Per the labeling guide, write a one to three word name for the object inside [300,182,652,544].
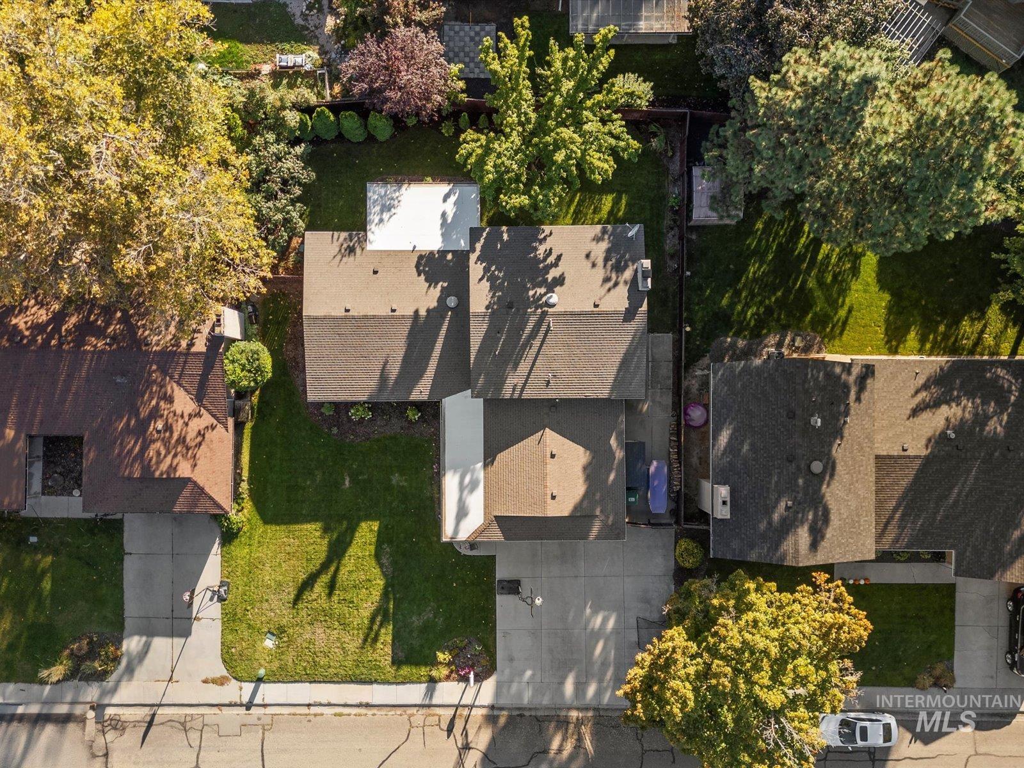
house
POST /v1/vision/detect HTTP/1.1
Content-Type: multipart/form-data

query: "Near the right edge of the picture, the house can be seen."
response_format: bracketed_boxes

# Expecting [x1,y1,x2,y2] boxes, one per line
[696,357,1024,580]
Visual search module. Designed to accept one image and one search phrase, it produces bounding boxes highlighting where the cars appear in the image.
[1007,586,1024,680]
[806,707,897,754]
